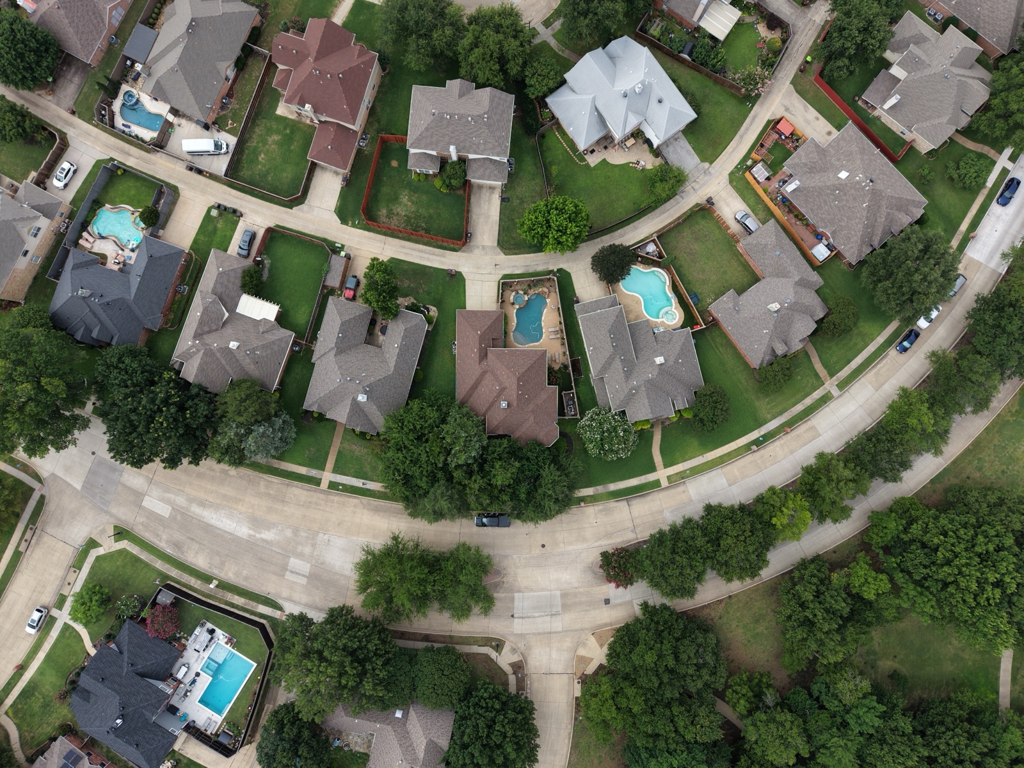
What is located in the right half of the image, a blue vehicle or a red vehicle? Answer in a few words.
blue vehicle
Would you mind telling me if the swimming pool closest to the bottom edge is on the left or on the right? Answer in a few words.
left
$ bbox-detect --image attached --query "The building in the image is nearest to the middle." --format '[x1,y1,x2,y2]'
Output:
[456,309,559,441]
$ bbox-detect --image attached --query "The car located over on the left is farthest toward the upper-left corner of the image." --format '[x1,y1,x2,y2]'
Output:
[55,160,77,189]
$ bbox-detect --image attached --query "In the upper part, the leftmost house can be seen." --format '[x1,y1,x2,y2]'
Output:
[0,167,80,297]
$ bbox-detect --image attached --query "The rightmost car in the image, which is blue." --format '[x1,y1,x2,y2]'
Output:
[996,176,1019,207]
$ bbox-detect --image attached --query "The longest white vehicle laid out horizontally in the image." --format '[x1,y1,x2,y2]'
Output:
[179,137,227,155]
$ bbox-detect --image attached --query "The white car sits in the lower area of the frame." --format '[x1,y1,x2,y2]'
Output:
[26,604,49,634]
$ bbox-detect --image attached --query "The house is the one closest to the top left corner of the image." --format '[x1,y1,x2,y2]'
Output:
[33,0,134,69]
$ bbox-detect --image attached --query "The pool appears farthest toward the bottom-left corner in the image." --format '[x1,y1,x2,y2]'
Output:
[195,639,259,721]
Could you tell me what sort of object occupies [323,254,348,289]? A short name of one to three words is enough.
shed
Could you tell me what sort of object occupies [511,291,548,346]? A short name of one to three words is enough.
swimming pool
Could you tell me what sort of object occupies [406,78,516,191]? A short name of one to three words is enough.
house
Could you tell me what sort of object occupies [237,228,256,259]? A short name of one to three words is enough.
car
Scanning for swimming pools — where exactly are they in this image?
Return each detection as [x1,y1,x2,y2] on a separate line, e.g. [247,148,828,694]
[195,639,259,721]
[89,206,145,250]
[620,265,678,325]
[118,87,167,134]
[511,291,548,346]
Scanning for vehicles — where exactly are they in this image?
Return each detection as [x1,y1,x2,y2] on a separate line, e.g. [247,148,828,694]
[996,176,1019,207]
[55,160,77,189]
[942,272,969,302]
[26,604,49,634]
[734,208,758,236]
[474,514,510,529]
[916,302,944,329]
[894,328,921,354]
[237,228,256,259]
[344,274,360,301]
[179,137,227,155]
